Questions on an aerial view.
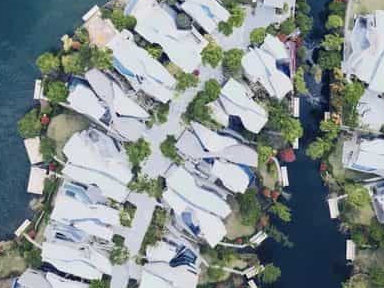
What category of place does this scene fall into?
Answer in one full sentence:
This looks like a residential area.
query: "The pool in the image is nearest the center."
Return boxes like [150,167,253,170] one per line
[228,114,245,129]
